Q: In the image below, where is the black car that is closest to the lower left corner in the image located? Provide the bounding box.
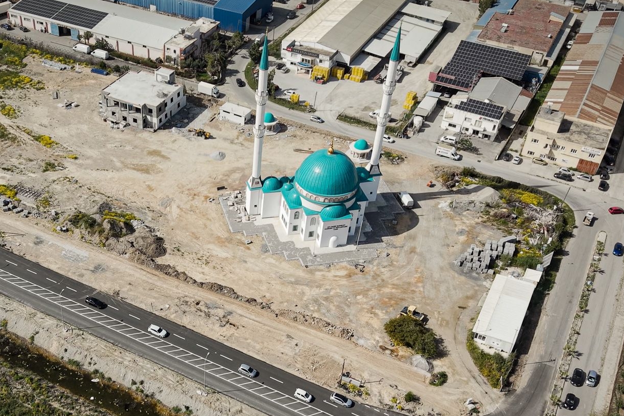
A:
[86,297,107,310]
